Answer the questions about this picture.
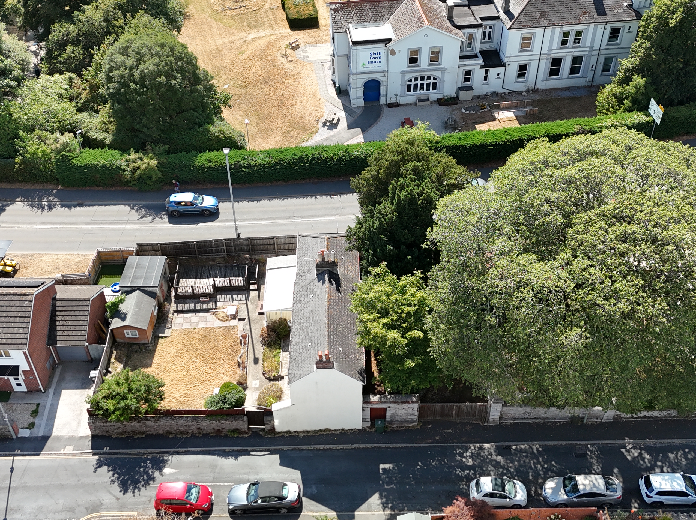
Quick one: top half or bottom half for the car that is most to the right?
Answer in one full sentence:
It is in the bottom half that the car that is most to the right appears.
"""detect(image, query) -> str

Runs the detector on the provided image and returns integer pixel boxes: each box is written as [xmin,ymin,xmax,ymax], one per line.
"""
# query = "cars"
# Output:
[540,470,623,507]
[468,473,528,506]
[153,478,215,514]
[227,476,304,512]
[166,189,221,216]
[637,471,696,507]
